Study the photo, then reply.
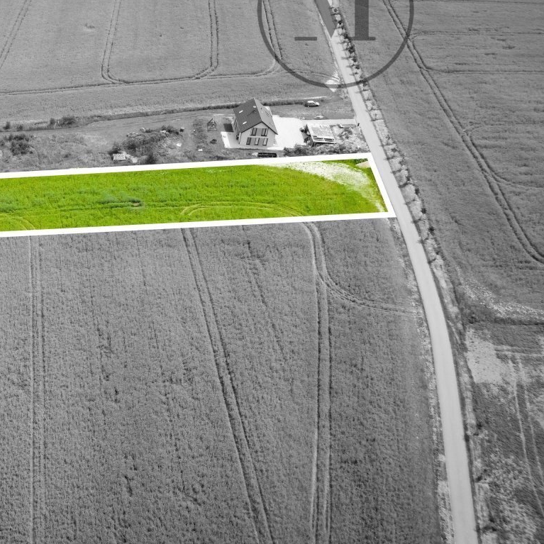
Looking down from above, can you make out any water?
No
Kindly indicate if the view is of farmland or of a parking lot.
farmland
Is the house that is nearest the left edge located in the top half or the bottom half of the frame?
top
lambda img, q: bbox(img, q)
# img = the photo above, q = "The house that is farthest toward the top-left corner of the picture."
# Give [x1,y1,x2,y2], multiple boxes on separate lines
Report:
[235,97,281,145]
